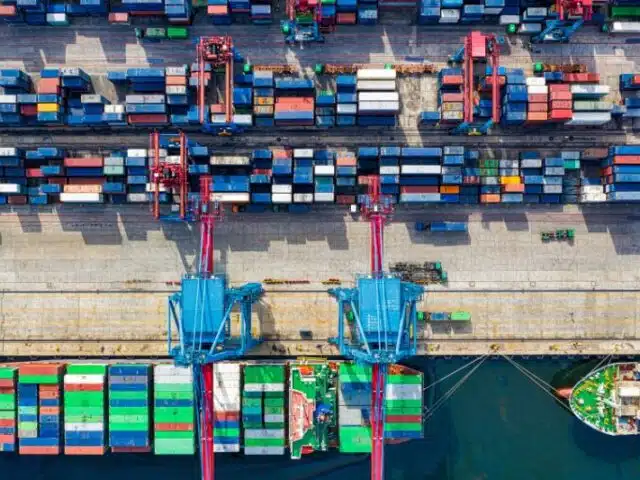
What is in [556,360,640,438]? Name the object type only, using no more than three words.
ship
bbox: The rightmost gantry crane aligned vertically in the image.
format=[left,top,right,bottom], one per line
[451,29,501,135]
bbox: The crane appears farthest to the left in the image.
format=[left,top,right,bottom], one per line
[151,132,201,226]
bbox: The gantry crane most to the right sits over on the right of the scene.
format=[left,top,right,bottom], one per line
[535,0,592,41]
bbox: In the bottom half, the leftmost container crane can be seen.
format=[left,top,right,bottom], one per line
[163,170,264,480]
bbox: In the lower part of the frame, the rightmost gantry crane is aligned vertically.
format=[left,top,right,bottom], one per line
[326,170,428,480]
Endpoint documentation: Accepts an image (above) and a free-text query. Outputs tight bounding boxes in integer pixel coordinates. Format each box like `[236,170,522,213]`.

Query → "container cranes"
[326,170,428,480]
[163,170,264,480]
[151,132,201,226]
[451,29,501,135]
[198,35,244,136]
[535,0,592,41]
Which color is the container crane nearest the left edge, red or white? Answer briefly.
red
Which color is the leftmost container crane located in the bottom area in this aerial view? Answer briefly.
blue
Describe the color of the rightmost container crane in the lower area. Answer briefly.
blue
